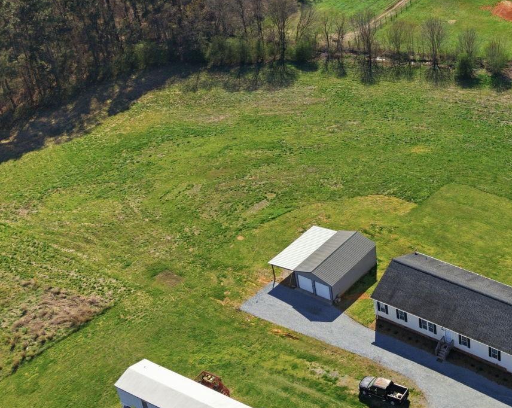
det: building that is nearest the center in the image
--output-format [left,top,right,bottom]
[268,226,377,304]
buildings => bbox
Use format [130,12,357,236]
[115,359,252,408]
[371,248,512,374]
[268,226,377,304]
